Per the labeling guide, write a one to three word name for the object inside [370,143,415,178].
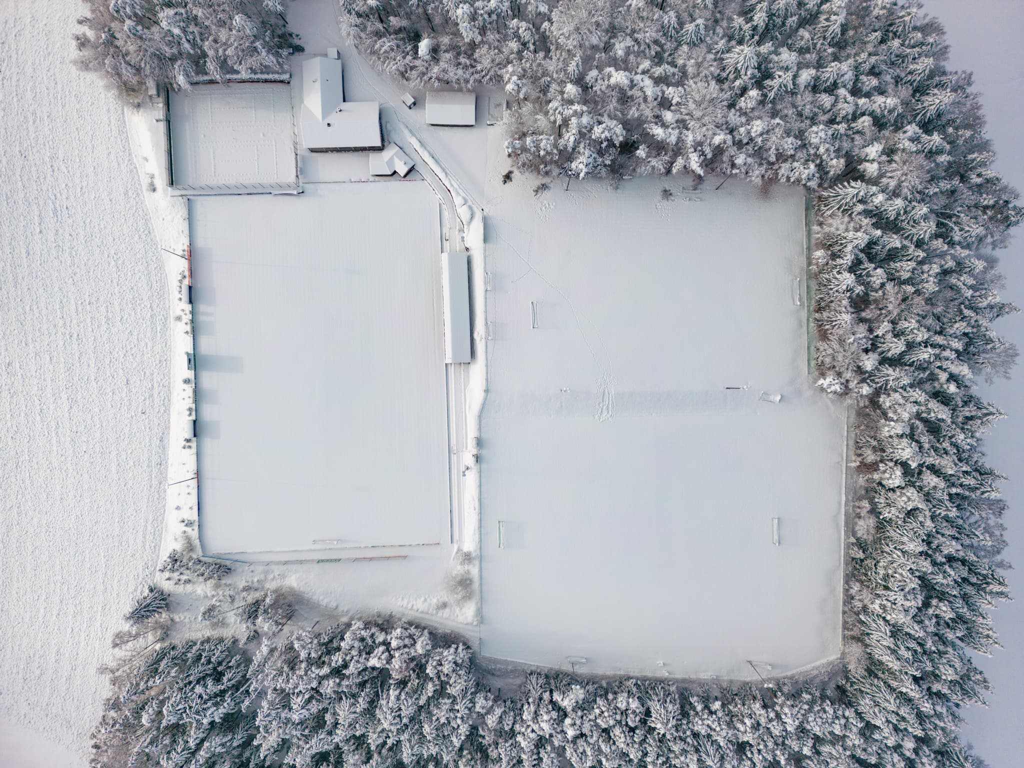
house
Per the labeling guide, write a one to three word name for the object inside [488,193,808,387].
sports field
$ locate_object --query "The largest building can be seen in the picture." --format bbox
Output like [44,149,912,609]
[301,57,383,154]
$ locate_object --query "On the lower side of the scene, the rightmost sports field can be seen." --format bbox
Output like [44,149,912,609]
[482,421,844,677]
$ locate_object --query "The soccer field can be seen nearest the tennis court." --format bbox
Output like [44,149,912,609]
[191,183,451,554]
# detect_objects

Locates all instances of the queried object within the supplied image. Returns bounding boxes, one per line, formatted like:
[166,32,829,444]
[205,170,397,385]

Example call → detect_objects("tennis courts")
[171,83,300,190]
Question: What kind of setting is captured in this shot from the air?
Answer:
sports ground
